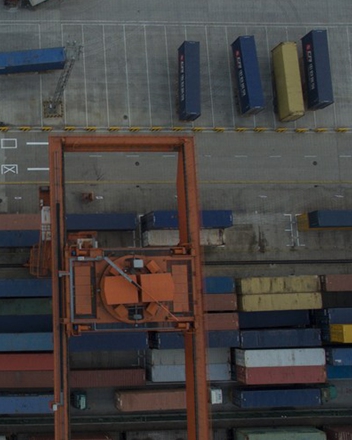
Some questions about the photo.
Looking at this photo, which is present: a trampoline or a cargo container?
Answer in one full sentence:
The image shows a cargo container.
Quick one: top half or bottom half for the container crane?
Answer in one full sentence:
The container crane sits in the bottom half of the picture.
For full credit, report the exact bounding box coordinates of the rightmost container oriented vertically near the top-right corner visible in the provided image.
[301,30,333,109]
